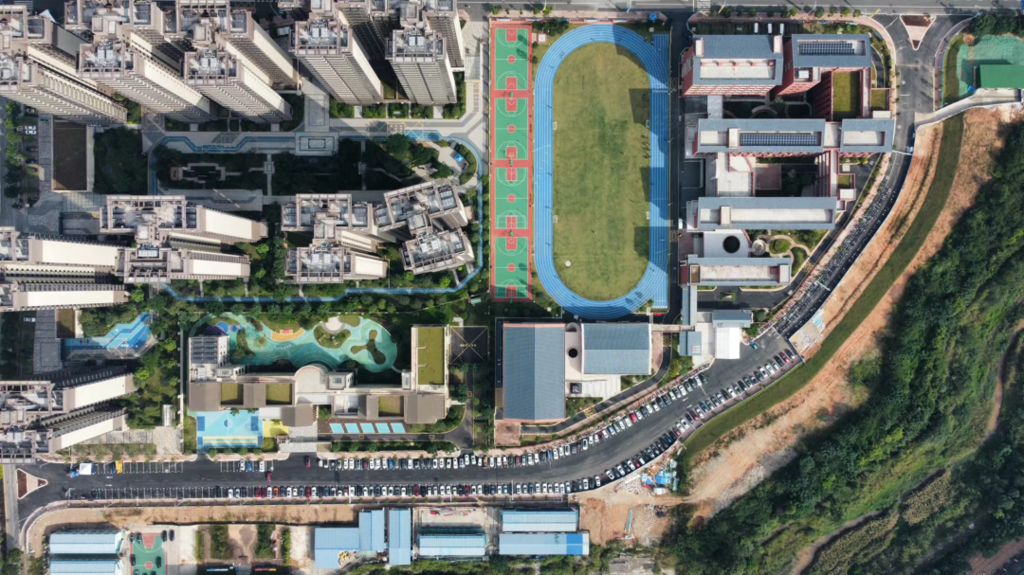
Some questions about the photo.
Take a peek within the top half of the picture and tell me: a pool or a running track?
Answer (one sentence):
Looking within the top half of the picture, you will find a running track.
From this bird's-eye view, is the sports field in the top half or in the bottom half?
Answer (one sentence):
Seen from above, the sports field lies in the top half of the view.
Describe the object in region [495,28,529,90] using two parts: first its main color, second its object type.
green basketball court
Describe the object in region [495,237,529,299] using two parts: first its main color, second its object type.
green basketball court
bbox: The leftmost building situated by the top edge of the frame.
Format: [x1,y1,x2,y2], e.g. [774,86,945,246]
[0,3,123,125]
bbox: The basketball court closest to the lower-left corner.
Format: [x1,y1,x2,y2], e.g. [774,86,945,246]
[131,534,167,575]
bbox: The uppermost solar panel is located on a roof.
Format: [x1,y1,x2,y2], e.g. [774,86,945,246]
[800,42,853,54]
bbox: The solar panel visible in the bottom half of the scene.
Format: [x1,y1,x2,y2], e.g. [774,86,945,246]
[191,339,216,364]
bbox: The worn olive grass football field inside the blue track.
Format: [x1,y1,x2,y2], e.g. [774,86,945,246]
[553,42,650,300]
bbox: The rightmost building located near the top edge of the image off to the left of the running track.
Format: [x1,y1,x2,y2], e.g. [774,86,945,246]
[371,0,467,103]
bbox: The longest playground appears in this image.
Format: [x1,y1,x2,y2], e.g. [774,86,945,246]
[190,312,397,373]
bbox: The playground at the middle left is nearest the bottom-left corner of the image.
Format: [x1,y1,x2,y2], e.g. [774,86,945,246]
[63,312,153,359]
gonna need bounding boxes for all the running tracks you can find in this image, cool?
[534,23,669,319]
